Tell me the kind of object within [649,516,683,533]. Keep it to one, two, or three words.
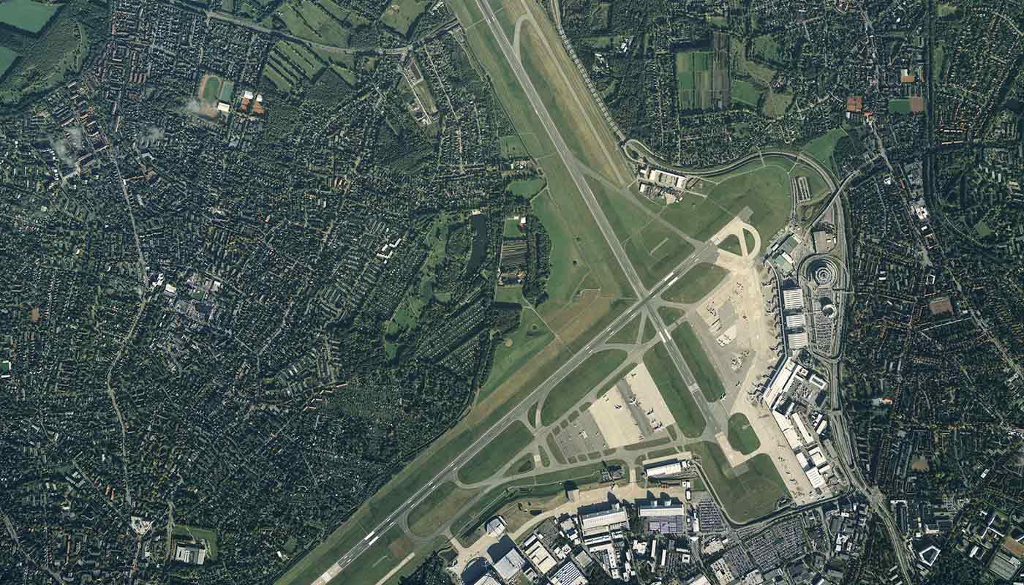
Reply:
hangar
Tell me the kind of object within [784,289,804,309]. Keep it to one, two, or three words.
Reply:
building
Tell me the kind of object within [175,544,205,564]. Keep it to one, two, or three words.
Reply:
building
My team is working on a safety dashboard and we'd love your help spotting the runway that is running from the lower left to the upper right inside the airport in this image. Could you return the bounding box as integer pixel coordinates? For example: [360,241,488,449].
[310,202,755,585]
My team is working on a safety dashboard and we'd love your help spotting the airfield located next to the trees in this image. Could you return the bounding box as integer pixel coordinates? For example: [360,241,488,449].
[273,0,852,585]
